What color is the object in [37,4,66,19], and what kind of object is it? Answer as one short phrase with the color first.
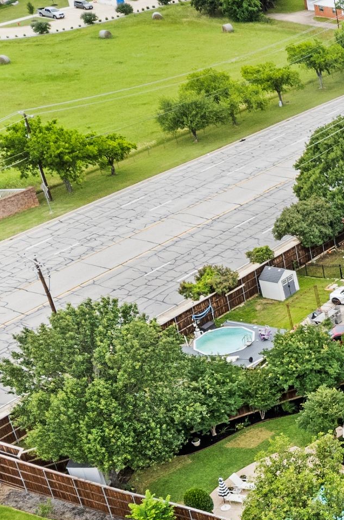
white vehicle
